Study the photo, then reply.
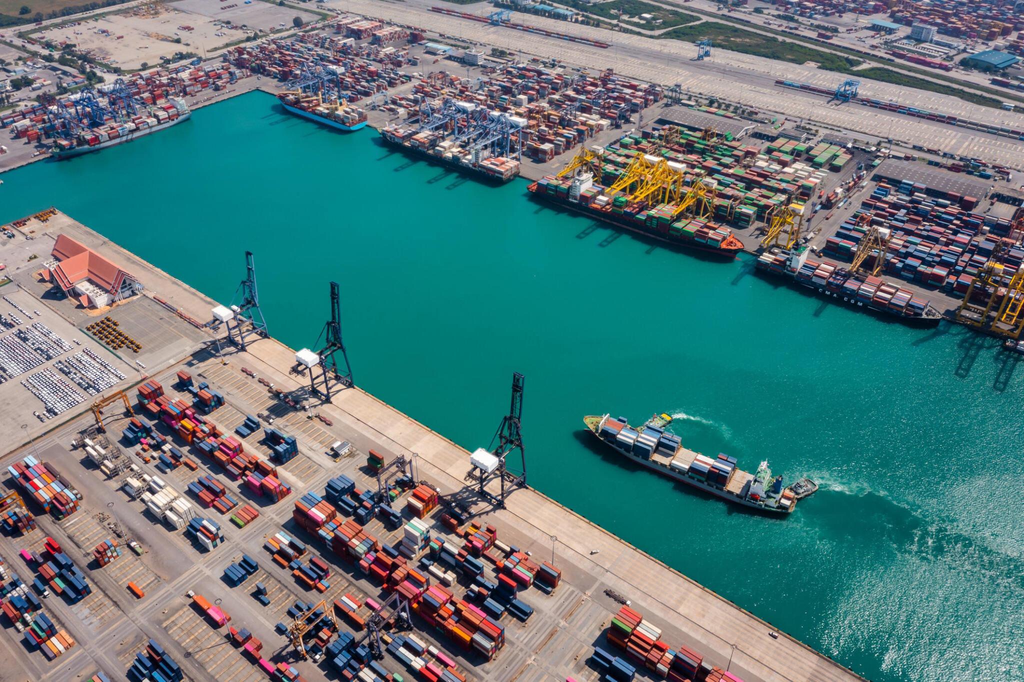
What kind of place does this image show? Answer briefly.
port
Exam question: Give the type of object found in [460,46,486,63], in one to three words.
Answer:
building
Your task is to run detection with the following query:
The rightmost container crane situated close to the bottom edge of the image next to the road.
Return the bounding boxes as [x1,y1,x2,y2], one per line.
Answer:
[368,595,417,656]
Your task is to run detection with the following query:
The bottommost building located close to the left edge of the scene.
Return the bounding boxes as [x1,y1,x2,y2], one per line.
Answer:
[31,233,139,308]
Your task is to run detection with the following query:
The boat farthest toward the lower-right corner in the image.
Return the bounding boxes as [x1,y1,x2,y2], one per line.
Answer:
[790,477,825,499]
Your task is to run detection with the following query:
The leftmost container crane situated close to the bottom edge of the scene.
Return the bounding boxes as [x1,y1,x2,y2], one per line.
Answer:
[290,597,342,658]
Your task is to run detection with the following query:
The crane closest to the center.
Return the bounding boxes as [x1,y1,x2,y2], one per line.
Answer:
[463,371,527,506]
